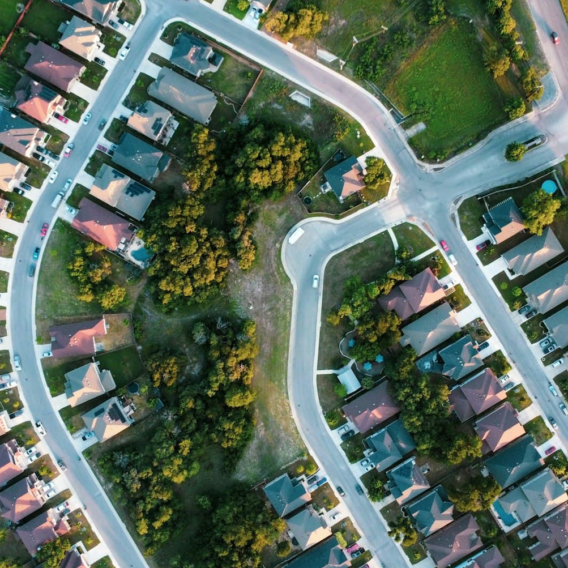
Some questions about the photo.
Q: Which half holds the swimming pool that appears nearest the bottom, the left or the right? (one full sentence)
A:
The swimming pool that appears nearest the bottom sits on the right side.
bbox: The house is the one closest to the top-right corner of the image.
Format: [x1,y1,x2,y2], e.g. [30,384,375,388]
[482,195,530,245]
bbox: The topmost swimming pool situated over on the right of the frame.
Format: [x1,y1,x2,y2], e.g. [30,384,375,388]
[541,178,558,195]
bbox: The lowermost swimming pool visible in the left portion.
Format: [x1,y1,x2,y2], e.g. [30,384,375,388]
[128,237,151,270]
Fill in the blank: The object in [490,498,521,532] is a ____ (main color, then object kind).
blue swimming pool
